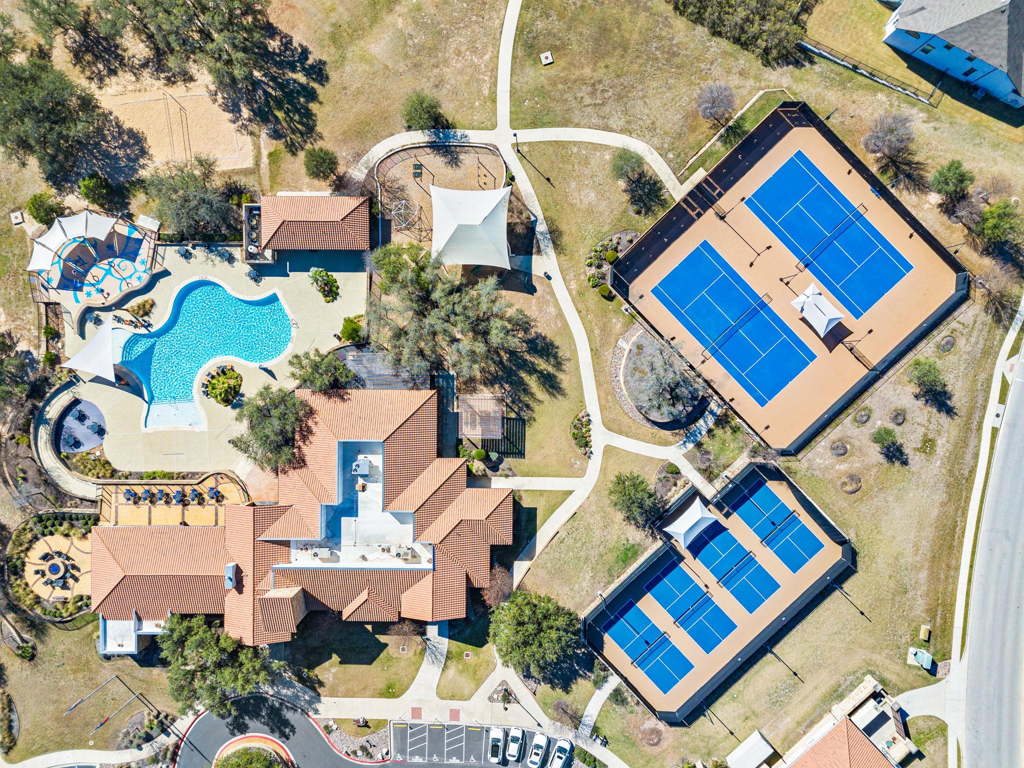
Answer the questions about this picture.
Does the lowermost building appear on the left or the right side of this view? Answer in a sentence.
The lowermost building is on the right side of the image.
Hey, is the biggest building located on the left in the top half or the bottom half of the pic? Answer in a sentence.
The bottom half of the photo is where the biggest building located on the left is.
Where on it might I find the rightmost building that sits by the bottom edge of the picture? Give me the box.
[770,711,900,768]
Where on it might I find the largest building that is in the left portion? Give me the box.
[90,389,513,654]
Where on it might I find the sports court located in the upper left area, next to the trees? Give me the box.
[98,81,253,172]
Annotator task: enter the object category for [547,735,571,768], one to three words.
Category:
car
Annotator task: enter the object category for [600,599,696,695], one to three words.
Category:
sports court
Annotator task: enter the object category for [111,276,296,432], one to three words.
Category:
swimming pool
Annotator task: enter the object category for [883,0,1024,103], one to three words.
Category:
house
